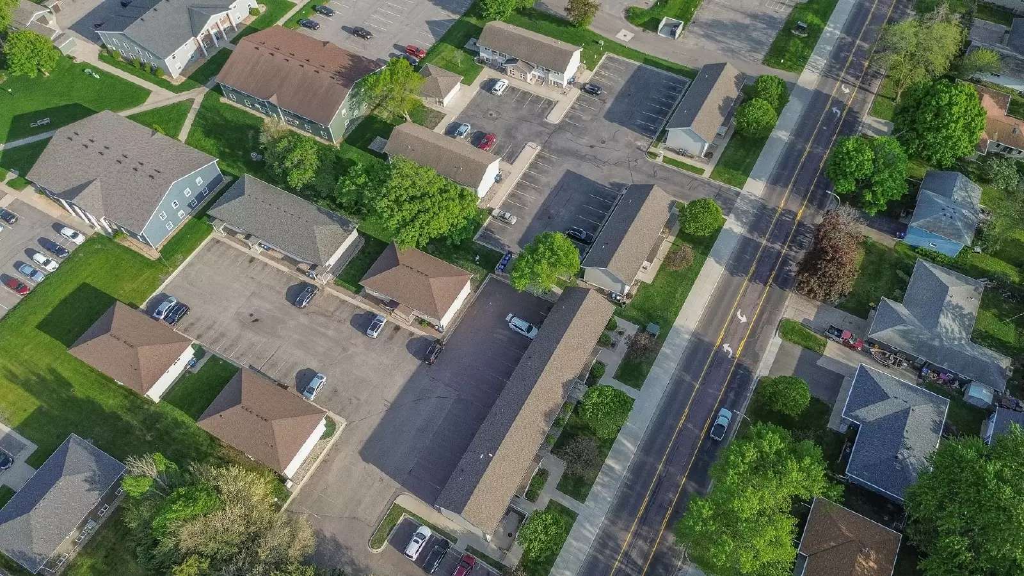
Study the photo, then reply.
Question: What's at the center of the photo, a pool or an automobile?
automobile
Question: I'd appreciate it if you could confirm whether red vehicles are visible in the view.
Yes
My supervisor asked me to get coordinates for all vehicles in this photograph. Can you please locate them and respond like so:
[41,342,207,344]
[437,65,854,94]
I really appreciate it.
[0,205,21,225]
[2,275,31,296]
[449,549,477,576]
[401,521,433,562]
[362,311,389,341]
[502,310,539,337]
[298,17,321,31]
[822,322,866,350]
[422,536,453,576]
[452,119,473,141]
[31,252,59,272]
[293,281,318,310]
[57,224,86,245]
[489,207,519,226]
[312,4,336,18]
[706,404,735,446]
[151,294,177,321]
[41,237,70,258]
[419,336,446,367]
[162,297,192,327]
[300,369,329,402]
[17,263,45,283]
[490,78,508,97]
[89,20,106,30]
[578,79,606,98]
[0,446,16,474]
[350,23,375,40]
[478,131,498,151]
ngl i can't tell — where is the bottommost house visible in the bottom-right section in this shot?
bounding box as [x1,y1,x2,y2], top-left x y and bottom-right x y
[788,501,893,576]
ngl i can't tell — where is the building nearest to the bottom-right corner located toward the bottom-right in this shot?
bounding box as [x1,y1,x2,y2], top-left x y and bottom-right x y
[982,406,1024,455]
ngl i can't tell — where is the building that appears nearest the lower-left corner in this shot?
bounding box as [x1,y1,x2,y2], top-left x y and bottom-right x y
[0,433,127,576]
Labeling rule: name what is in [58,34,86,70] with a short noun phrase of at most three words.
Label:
shed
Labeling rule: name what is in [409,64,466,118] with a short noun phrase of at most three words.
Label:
building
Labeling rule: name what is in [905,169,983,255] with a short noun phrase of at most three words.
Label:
house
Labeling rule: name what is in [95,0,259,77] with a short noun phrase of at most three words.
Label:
building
